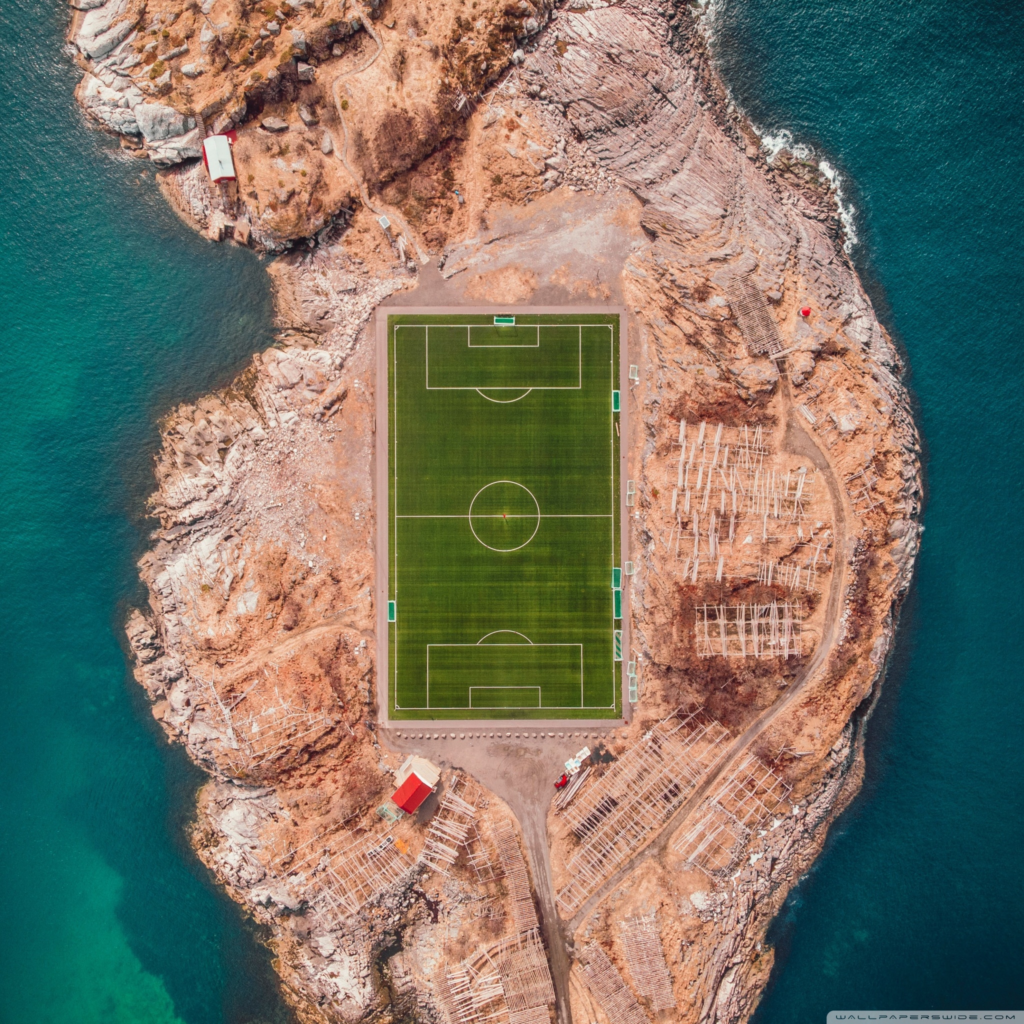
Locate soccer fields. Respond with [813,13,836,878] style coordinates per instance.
[376,306,630,728]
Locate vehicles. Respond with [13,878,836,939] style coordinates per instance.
[553,773,568,789]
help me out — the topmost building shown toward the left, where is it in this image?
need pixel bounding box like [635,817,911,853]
[203,133,236,185]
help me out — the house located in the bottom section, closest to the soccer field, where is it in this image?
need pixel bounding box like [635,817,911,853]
[392,754,441,814]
